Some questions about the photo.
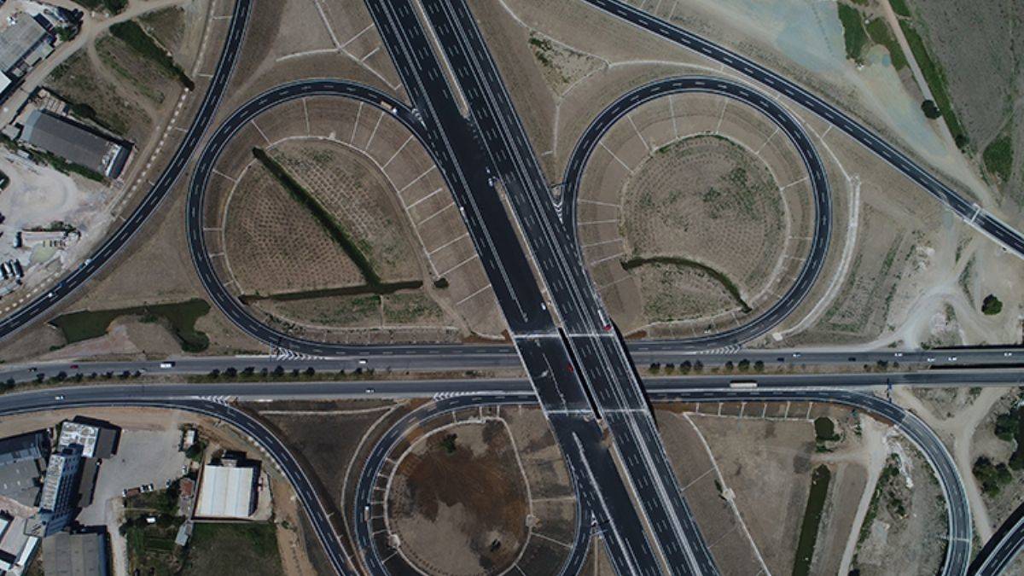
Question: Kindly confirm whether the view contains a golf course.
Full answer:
No, there isn't any golf course down there.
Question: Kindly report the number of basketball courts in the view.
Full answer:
The picture shows no basketball courts.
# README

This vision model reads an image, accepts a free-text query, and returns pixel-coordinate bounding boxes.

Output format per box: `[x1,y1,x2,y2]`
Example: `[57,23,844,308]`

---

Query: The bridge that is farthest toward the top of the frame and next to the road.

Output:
[965,206,1024,258]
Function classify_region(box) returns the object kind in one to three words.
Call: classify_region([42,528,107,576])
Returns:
building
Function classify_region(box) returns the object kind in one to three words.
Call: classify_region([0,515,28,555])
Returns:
building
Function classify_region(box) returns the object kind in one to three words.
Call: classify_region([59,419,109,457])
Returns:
house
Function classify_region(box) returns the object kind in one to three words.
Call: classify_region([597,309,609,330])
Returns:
vehicle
